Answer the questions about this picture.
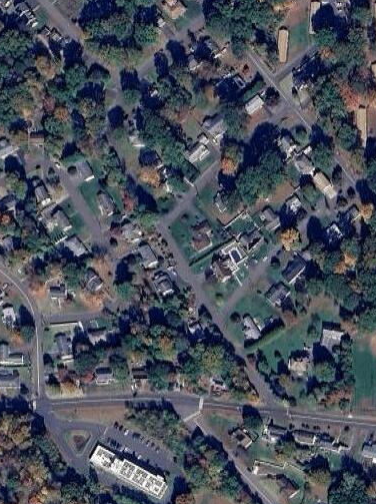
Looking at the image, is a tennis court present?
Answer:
No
